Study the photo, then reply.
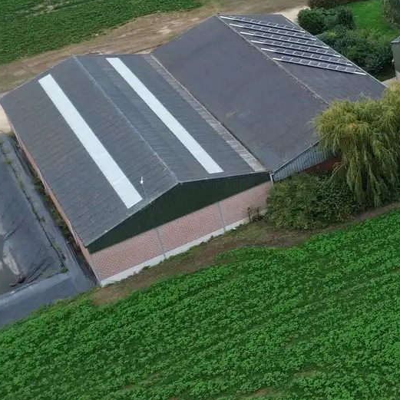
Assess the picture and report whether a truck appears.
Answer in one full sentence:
No, no truck is visible in the scene.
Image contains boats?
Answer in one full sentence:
No, the picture doesn't show any boat.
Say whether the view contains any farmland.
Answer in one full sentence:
Yes, the picture does contain farmland.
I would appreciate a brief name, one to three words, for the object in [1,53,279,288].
barn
